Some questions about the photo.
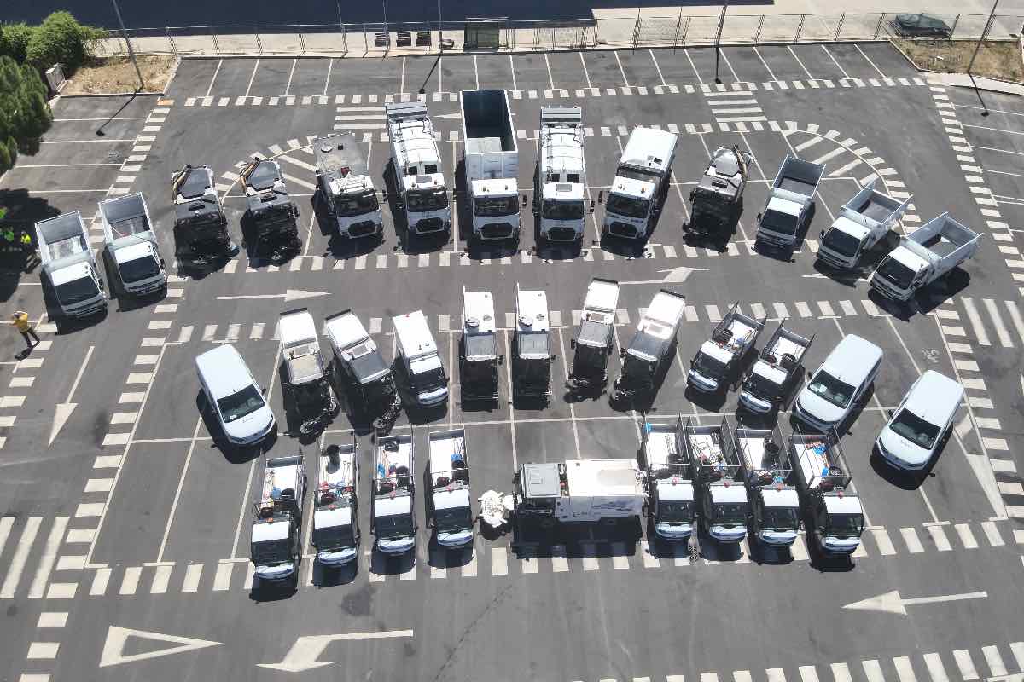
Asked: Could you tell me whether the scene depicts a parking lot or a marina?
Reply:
parking lot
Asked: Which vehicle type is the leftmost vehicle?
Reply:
truck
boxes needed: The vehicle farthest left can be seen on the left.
[34,211,110,325]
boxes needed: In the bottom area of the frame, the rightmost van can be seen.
[874,373,966,473]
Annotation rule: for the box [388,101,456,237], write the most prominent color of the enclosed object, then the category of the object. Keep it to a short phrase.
white truck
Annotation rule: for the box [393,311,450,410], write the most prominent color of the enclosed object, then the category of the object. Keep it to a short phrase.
white truck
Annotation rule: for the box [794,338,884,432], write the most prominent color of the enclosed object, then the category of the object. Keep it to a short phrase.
white van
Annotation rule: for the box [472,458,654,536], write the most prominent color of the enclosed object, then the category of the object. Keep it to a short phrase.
white vehicle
